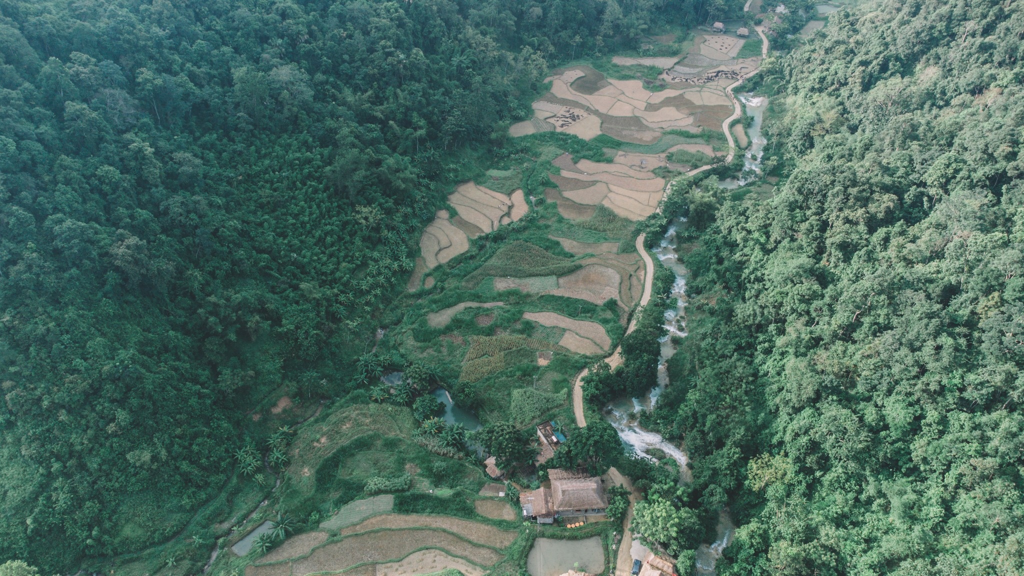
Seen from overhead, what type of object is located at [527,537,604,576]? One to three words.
pond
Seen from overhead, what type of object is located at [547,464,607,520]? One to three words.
house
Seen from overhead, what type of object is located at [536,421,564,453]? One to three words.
building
